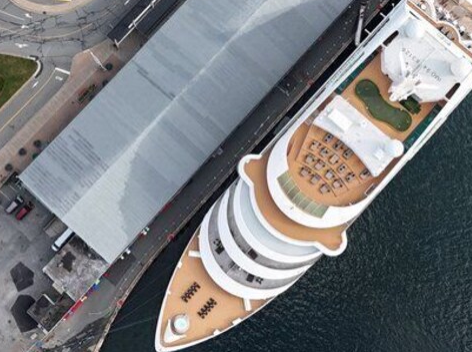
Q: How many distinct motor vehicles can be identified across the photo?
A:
3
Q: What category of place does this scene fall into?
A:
port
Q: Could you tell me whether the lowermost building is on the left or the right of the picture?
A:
left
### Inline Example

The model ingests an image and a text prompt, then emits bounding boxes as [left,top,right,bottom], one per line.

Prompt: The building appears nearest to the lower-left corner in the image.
[26,293,75,335]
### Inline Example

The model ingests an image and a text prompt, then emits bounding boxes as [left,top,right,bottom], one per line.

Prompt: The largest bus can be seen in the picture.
[47,225,77,252]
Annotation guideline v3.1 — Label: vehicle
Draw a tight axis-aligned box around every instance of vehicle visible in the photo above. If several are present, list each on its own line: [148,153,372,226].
[15,200,35,221]
[47,225,77,252]
[4,195,24,216]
